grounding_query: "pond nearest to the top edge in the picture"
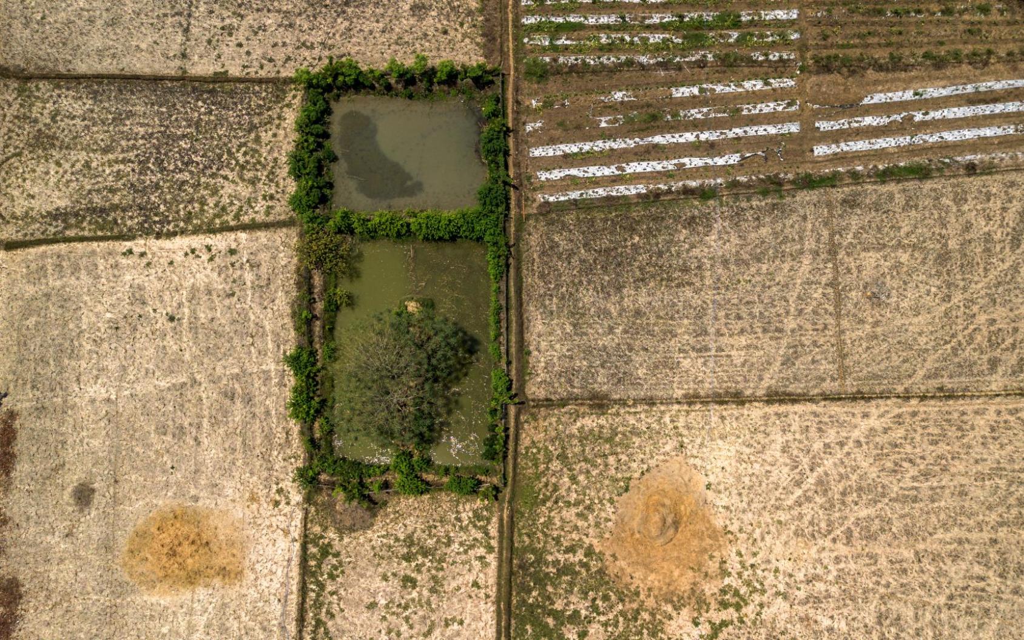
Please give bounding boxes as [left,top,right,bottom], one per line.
[330,95,489,213]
